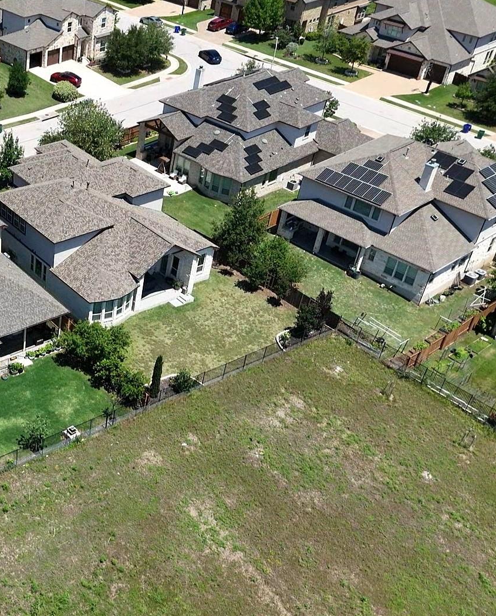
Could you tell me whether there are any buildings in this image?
Yes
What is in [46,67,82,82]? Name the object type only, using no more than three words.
car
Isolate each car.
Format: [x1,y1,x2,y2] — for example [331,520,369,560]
[194,47,229,63]
[46,67,82,82]
[136,12,167,23]
[206,14,232,31]
[222,19,252,33]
